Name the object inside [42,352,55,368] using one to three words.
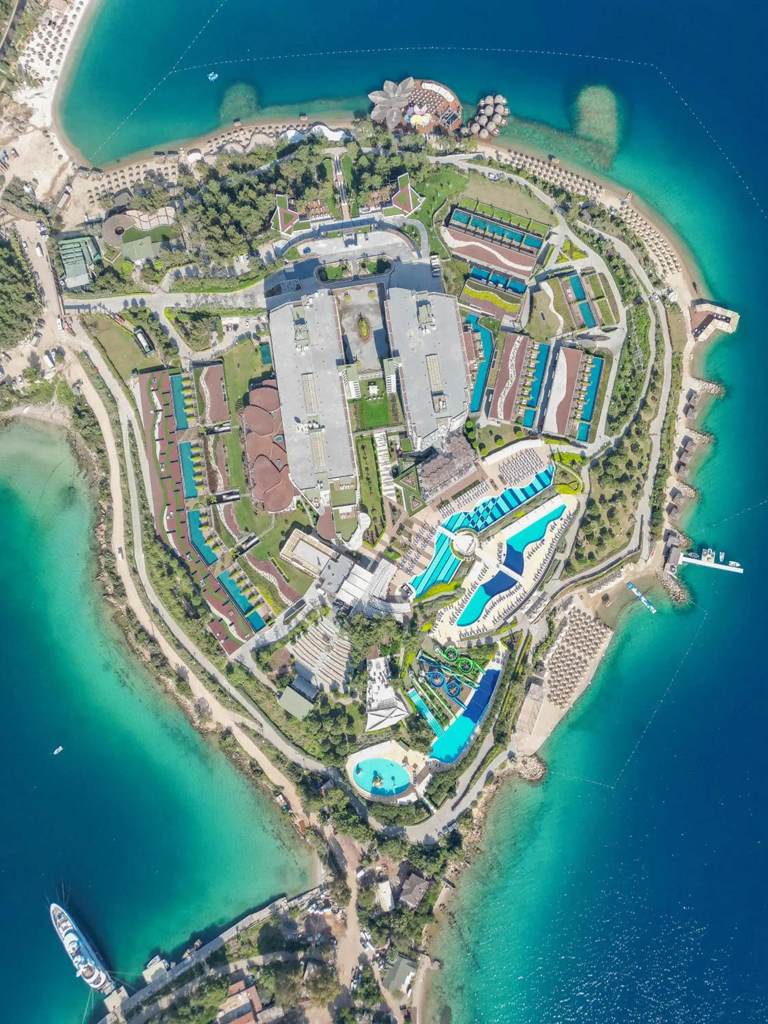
vehicle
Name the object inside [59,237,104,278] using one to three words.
building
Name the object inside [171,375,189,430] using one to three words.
swimming pool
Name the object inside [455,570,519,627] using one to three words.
swimming pool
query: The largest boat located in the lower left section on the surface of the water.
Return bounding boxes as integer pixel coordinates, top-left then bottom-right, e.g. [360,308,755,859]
[46,882,137,1022]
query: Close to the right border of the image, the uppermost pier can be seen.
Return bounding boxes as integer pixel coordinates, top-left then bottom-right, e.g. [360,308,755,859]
[690,303,740,343]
